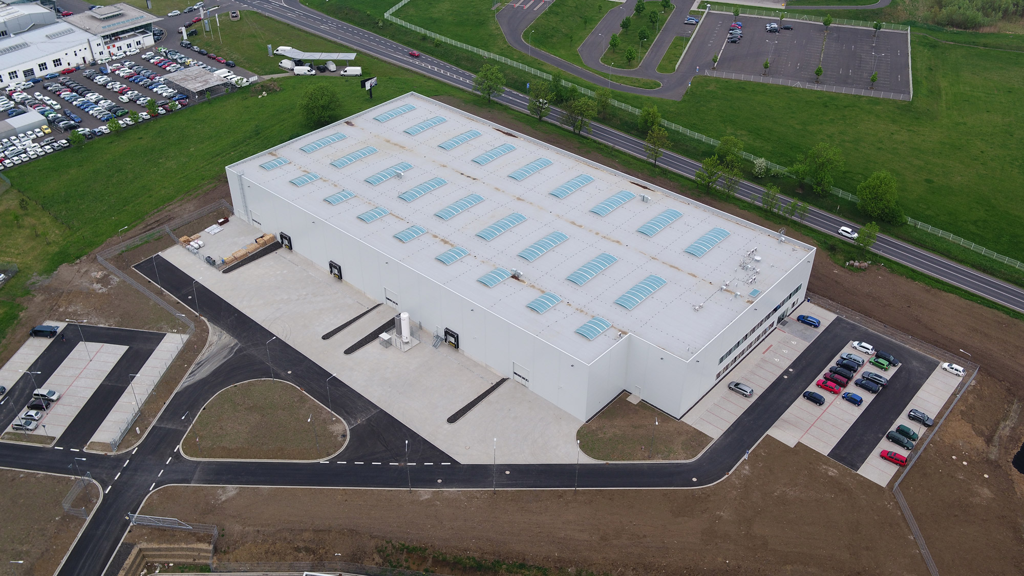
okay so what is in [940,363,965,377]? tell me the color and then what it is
white car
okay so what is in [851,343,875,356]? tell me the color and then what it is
white vehicle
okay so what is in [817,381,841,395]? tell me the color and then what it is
red car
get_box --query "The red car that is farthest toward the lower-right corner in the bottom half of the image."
[880,451,907,468]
